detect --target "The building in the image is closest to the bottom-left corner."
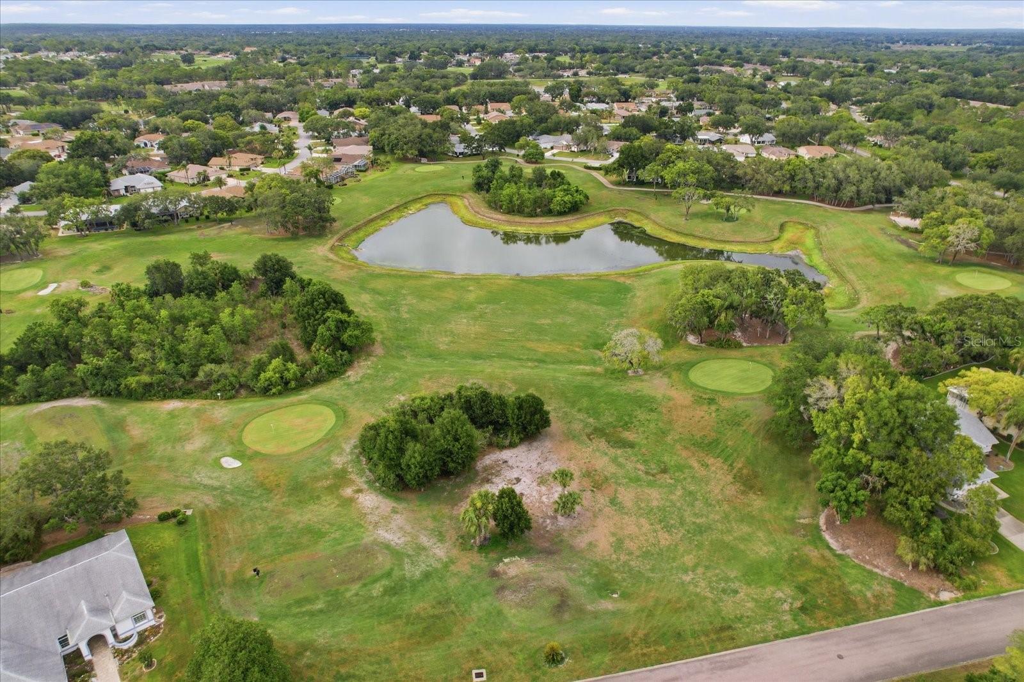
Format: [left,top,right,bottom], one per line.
[0,530,160,682]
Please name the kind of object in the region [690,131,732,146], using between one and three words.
house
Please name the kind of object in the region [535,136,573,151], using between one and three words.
house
